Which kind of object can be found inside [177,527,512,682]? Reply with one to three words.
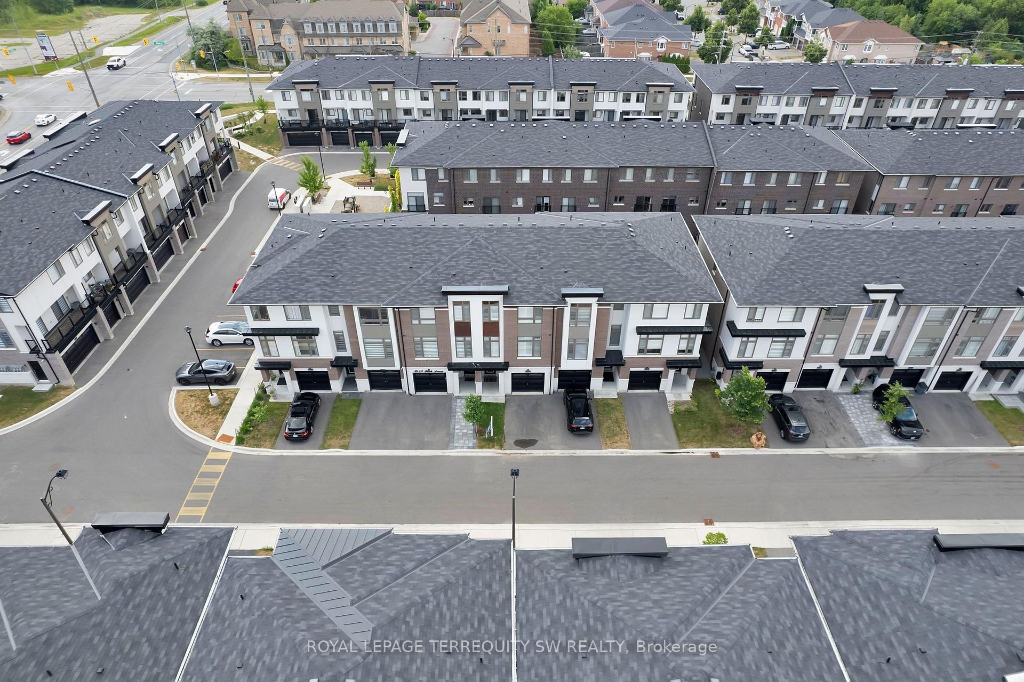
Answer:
house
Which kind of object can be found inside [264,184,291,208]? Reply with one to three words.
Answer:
vehicle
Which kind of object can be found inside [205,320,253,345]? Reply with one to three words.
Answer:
car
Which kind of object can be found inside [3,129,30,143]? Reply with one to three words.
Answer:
car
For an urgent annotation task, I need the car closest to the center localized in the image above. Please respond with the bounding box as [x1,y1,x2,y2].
[565,386,593,431]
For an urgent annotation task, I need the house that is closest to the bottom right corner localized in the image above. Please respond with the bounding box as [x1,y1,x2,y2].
[789,528,1024,682]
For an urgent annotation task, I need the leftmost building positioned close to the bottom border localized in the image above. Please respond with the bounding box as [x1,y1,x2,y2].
[0,512,238,682]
